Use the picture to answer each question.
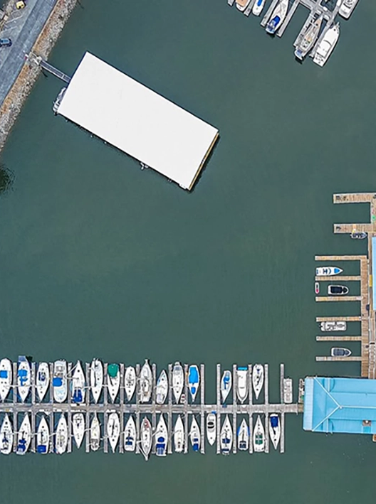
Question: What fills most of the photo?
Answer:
water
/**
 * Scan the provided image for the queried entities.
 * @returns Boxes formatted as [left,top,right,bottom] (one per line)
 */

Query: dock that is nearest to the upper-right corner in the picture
[228,0,340,57]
